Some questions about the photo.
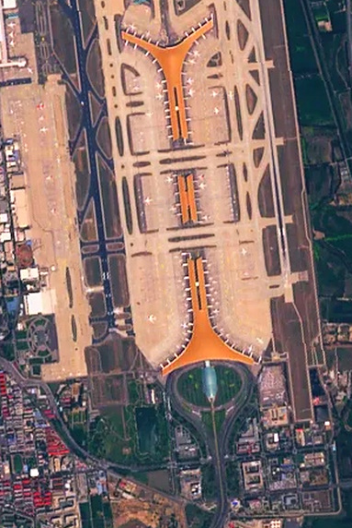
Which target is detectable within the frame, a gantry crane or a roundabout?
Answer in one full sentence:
Visible in the photo is a roundabout.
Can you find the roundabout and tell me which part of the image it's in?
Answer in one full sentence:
Look in the bottom portion of the view to spot the roundabout.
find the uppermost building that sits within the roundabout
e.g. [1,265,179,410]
[202,361,217,402]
